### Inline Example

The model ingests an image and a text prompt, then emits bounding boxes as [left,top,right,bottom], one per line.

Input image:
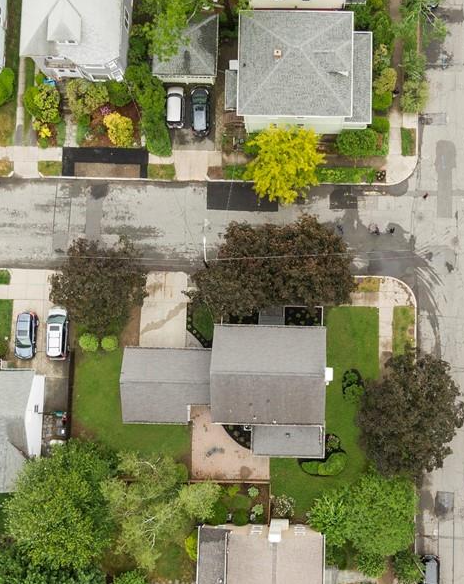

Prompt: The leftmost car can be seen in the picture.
[12,310,40,360]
